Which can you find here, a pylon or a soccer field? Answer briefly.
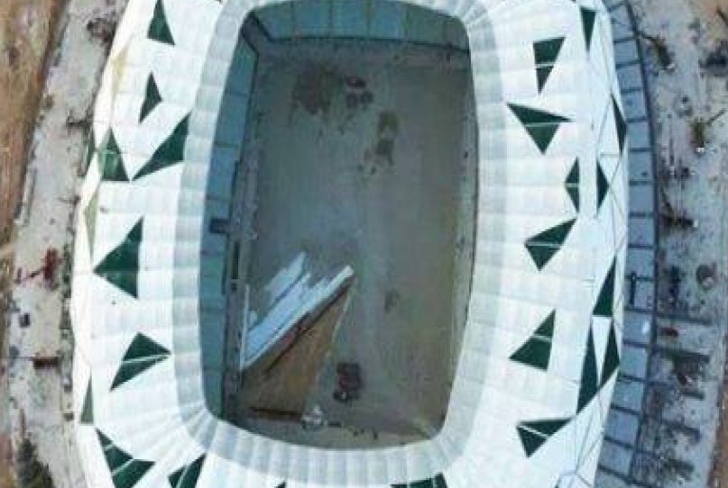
soccer field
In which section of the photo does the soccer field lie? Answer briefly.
center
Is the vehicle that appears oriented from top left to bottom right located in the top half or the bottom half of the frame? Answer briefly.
bottom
